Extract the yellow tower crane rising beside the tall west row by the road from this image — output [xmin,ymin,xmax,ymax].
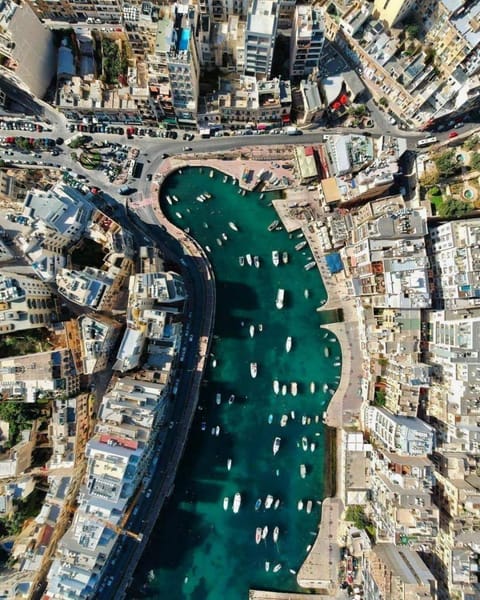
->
[70,485,148,543]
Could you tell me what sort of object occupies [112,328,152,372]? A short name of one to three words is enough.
building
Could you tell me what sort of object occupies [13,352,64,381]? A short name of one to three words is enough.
building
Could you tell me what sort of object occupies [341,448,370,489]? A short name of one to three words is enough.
house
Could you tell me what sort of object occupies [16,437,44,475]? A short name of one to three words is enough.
house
